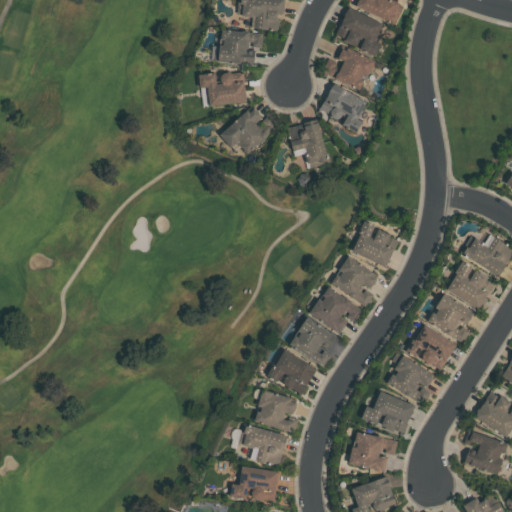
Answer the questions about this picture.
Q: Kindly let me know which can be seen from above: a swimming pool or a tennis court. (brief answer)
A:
swimming pool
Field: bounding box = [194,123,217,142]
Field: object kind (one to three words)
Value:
swimming pool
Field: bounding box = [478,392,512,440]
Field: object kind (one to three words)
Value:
house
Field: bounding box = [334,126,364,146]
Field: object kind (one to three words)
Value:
swimming pool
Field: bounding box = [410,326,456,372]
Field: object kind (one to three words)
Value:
house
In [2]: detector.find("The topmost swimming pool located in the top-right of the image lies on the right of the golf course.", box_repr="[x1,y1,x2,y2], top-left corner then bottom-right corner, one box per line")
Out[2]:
[372,76,386,94]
